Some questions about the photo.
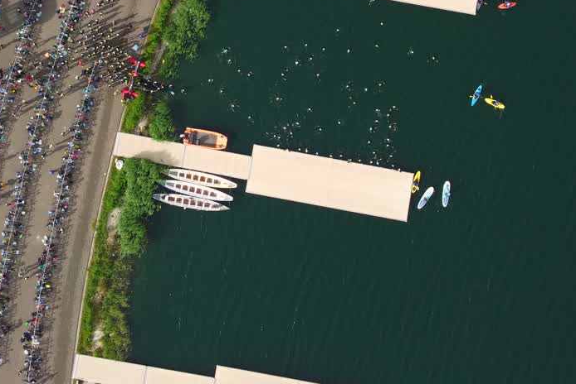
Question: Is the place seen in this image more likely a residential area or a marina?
marina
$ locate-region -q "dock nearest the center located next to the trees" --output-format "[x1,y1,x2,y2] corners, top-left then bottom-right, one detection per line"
[111,131,414,221]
